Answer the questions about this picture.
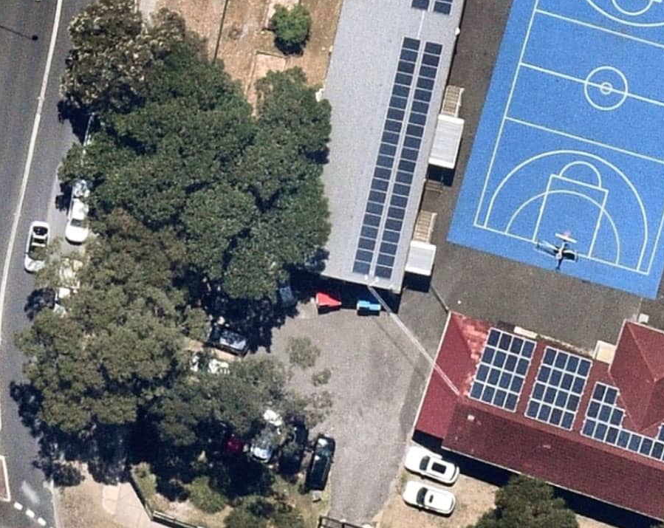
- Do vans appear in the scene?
Yes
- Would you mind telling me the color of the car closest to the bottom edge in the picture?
white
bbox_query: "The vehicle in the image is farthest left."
[23,221,50,273]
